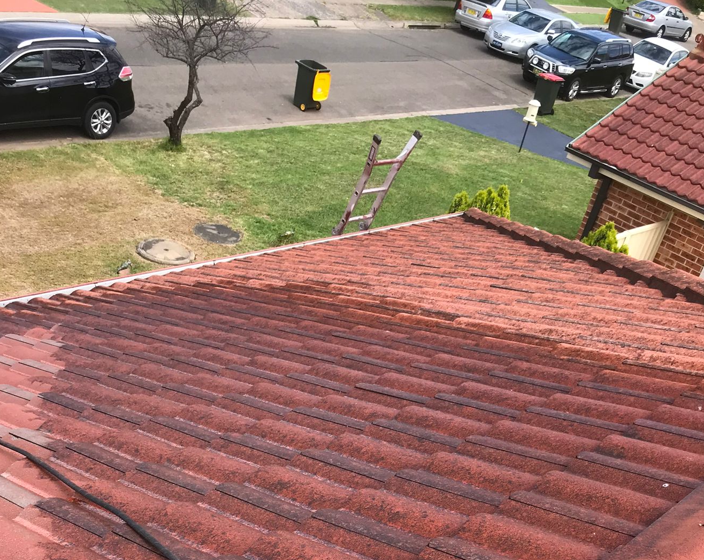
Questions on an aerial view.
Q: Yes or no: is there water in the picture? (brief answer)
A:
No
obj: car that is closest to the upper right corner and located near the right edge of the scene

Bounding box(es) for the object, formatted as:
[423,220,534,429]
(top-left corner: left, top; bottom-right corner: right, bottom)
[629,0,692,40]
